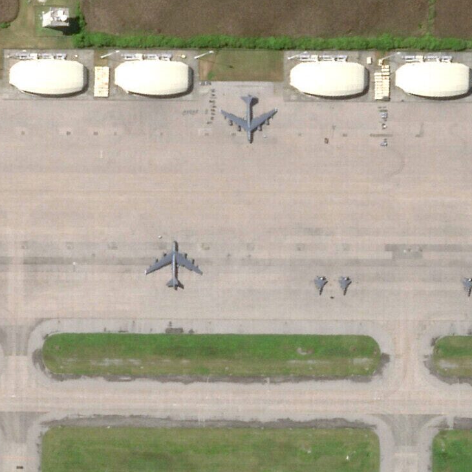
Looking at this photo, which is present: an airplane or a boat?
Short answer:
airplane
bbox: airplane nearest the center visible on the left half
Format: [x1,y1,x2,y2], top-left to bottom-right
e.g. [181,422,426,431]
[146,241,202,289]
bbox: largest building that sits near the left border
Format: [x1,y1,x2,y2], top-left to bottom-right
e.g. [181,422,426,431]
[9,55,85,95]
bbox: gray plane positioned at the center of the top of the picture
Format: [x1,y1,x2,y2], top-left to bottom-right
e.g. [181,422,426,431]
[221,93,277,141]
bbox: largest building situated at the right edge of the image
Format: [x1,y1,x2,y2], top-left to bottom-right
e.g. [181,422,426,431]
[396,57,471,97]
